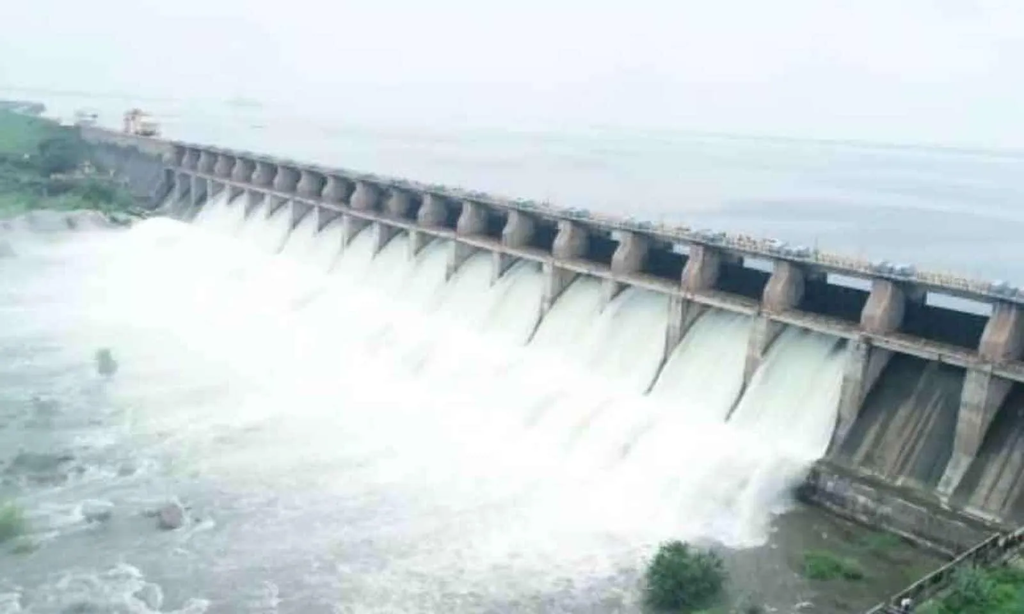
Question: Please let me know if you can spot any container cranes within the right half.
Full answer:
No, looking within the right half, there is no container crane.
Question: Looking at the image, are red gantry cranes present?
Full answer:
No, I can't see a single red gantry crane in this photo.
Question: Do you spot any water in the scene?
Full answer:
Yes, water shows up in the scene.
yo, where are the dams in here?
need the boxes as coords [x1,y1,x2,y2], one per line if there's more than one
[151,139,1024,564]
